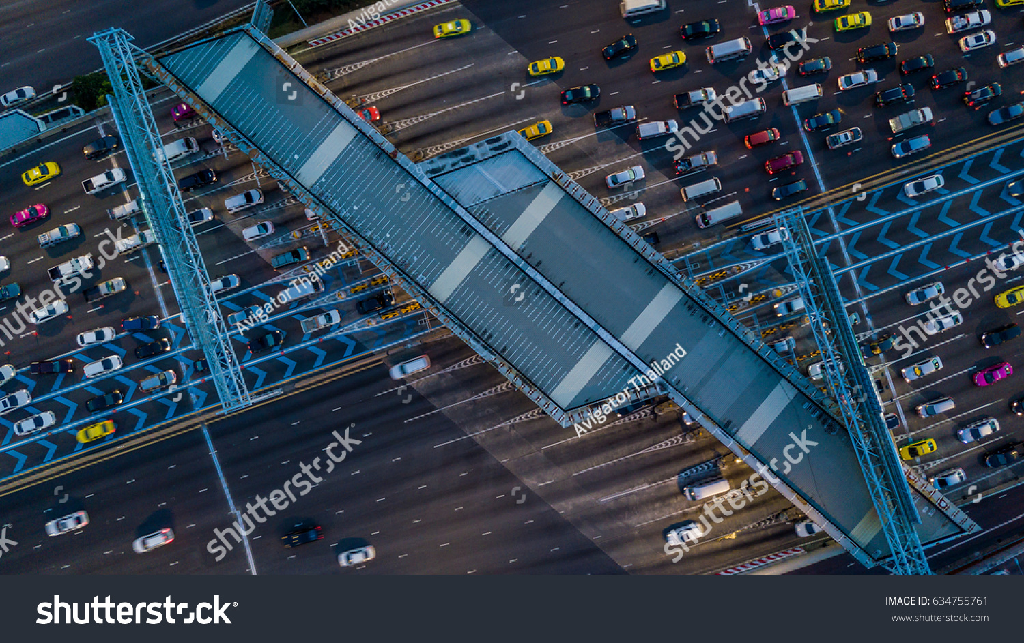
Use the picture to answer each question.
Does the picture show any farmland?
No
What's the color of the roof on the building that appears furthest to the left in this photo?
blue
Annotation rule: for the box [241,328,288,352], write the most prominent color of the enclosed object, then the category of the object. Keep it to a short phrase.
black truck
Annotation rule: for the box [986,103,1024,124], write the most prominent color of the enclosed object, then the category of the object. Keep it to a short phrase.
blue car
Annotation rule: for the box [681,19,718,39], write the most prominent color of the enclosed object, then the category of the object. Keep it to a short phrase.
black car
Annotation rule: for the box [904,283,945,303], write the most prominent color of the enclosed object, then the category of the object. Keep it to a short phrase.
blue car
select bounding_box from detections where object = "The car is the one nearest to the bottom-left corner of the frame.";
[48,511,89,535]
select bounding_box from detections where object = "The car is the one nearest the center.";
[391,356,431,378]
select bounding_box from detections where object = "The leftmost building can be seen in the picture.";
[0,109,45,153]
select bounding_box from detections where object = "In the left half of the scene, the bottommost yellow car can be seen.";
[76,419,118,442]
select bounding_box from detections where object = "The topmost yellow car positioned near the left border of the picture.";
[21,162,62,185]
